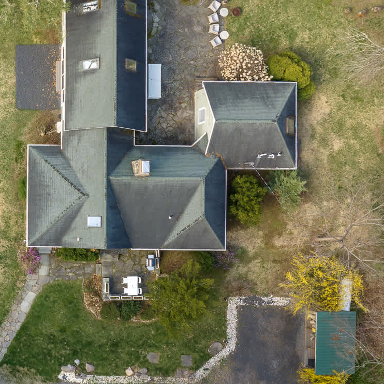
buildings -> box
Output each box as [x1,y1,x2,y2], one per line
[304,309,357,375]
[23,0,298,257]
